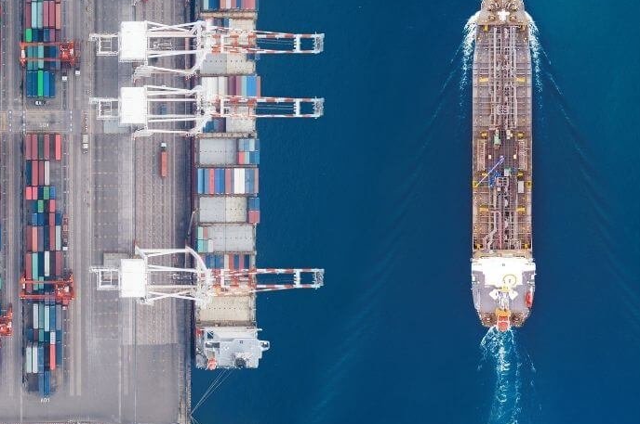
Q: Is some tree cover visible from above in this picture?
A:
No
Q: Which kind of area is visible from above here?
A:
port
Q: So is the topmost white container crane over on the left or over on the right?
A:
left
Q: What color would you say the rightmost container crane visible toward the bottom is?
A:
white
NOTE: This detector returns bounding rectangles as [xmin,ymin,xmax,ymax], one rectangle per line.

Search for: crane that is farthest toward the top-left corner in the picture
[17,39,85,66]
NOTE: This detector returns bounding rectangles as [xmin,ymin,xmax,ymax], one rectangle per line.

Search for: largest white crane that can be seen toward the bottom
[90,239,322,313]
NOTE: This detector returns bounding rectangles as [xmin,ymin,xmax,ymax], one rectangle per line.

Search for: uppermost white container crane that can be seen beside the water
[90,12,322,82]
